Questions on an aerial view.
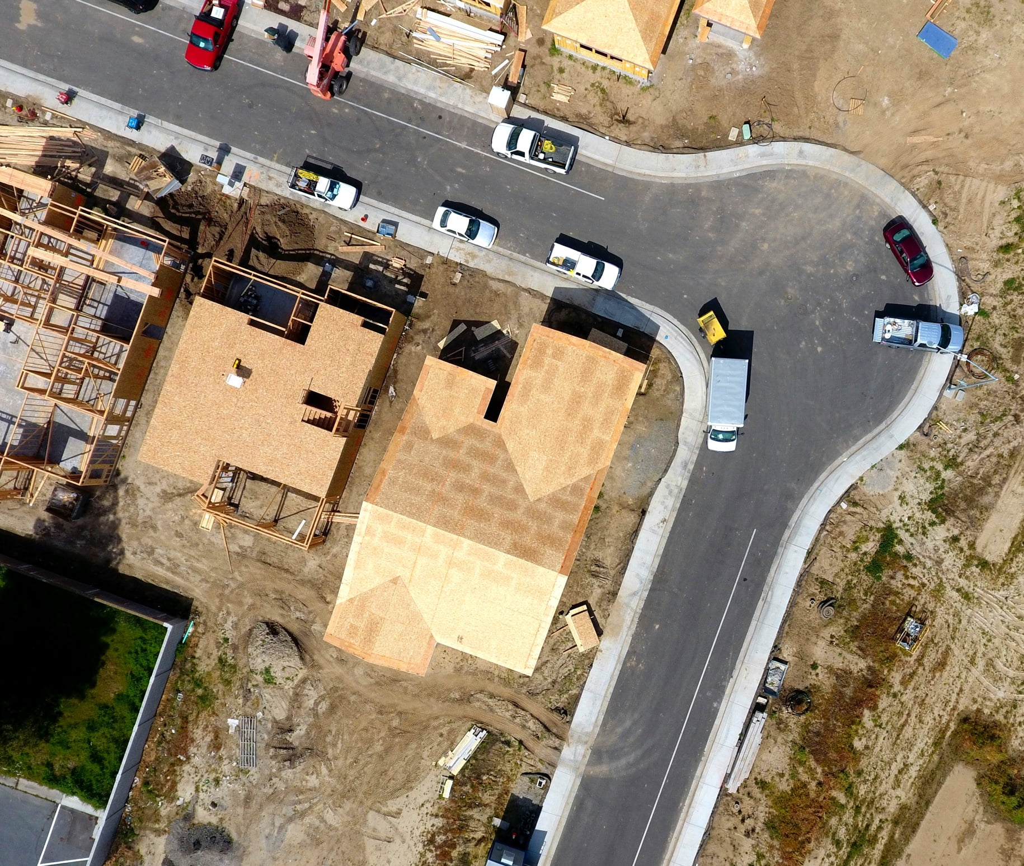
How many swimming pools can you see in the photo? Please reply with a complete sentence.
There are no swimming pools in the image.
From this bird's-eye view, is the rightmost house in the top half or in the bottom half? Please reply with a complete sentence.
The rightmost house sits in the top half of the picture.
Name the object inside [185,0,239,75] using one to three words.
truck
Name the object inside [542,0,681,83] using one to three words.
house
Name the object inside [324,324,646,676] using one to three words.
house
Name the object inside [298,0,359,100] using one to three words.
work vehicle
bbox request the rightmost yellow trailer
[696,311,726,357]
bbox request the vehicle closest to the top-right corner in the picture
[882,221,934,292]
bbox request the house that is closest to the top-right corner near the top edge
[692,0,776,51]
